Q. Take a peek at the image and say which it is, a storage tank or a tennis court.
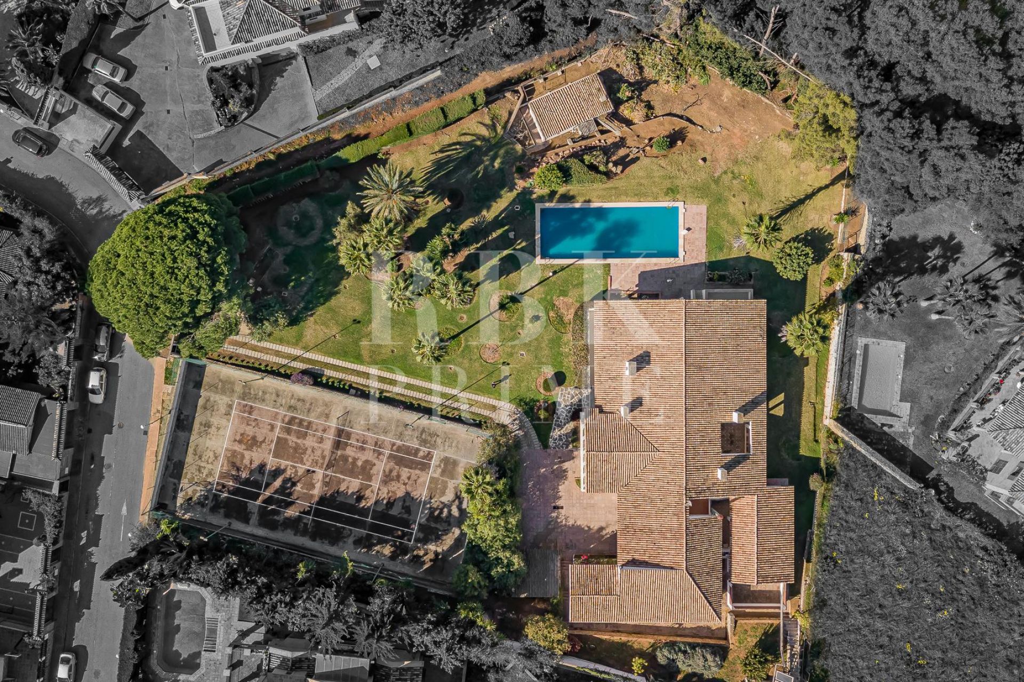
tennis court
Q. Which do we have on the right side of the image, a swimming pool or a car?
swimming pool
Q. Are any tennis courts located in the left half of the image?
Yes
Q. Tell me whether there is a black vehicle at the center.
No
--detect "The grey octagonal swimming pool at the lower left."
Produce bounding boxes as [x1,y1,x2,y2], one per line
[150,583,214,681]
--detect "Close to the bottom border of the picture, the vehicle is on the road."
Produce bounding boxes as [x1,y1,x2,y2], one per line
[57,649,80,682]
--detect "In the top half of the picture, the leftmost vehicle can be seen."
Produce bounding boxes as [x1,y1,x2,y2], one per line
[13,130,52,159]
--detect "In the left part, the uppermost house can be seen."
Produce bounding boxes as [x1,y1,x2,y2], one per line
[183,0,363,72]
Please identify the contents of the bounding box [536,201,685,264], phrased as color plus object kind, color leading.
blue swimming pool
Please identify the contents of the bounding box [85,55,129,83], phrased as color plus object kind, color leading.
gray car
